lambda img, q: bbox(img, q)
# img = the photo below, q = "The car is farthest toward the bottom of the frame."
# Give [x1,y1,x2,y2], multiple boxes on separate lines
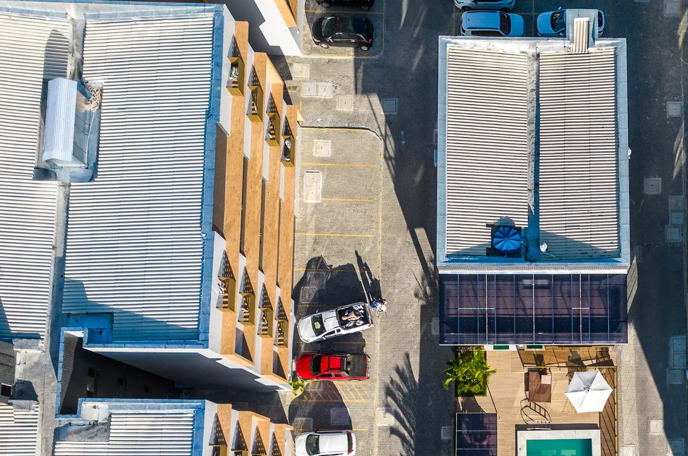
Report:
[296,429,357,456]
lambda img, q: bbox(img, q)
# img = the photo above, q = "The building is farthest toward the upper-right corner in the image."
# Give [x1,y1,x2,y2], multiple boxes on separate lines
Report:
[436,14,629,275]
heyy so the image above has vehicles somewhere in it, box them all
[296,349,372,383]
[316,0,377,10]
[455,0,516,13]
[462,8,524,39]
[298,304,375,343]
[313,16,374,50]
[541,8,603,39]
[296,429,357,456]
